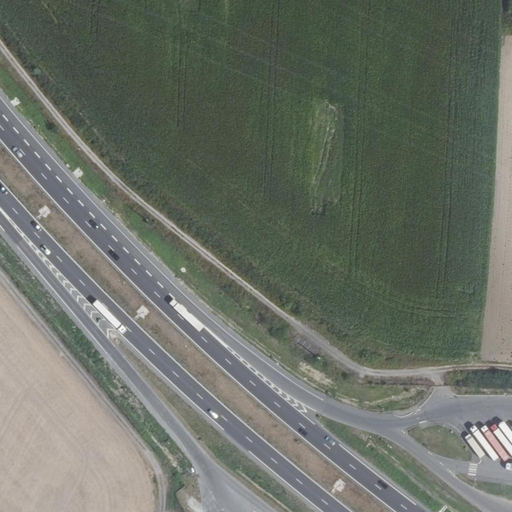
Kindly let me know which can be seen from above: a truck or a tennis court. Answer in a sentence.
It is a truck that can be seen here.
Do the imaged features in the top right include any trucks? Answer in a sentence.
No, no truck is visible in the top right.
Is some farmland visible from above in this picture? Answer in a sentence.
Yes, there's farmland in this view.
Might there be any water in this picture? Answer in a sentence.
No, the scene doesn't show any water.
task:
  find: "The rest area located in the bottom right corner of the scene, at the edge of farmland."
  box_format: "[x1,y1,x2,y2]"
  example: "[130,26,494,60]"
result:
[338,385,512,512]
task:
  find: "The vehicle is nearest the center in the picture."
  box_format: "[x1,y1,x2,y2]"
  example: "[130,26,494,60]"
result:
[170,300,203,332]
